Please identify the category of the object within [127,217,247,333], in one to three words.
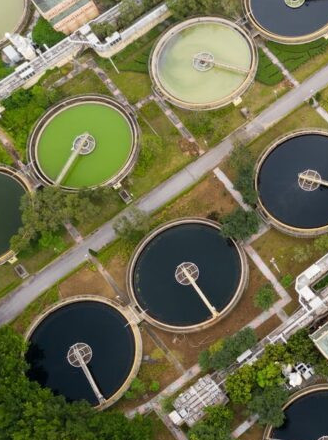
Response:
storage tank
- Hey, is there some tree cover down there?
Yes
